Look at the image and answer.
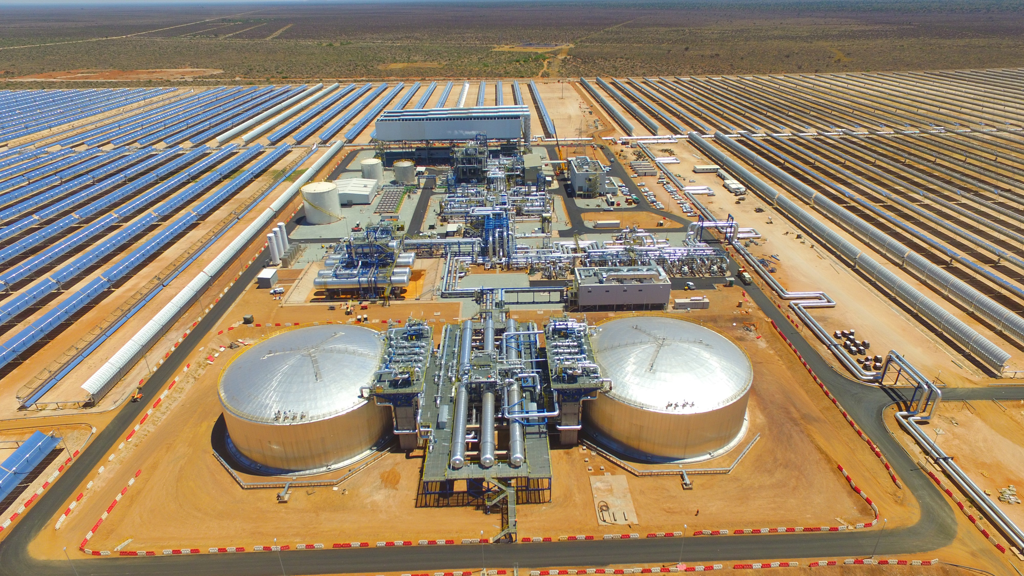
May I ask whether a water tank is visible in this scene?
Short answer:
Yes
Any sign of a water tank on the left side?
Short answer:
Yes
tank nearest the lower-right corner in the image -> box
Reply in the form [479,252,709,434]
[577,312,753,468]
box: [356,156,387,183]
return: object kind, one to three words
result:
water tank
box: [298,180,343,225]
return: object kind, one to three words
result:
water tank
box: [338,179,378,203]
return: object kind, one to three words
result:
shed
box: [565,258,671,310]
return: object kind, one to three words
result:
building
